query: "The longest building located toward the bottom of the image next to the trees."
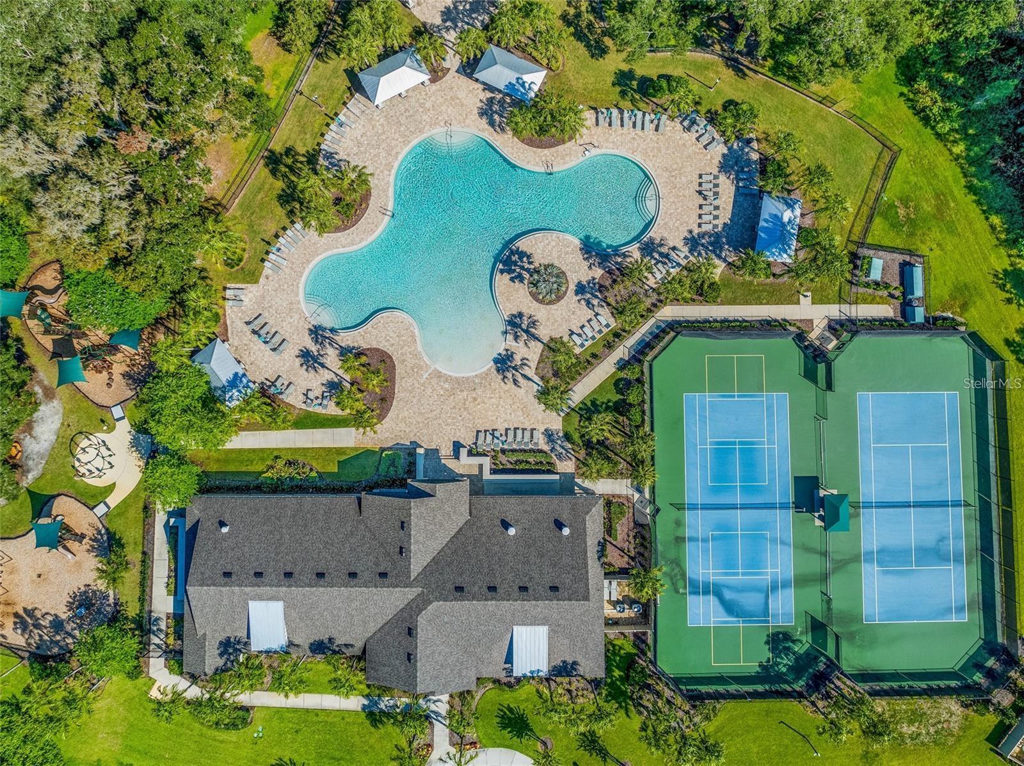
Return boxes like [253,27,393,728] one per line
[185,473,604,698]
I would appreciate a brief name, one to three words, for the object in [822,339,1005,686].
tennis court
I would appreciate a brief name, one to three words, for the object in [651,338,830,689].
tennis court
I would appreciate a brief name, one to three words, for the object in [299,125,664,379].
swimming pool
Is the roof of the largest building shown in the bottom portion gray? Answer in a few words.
Yes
